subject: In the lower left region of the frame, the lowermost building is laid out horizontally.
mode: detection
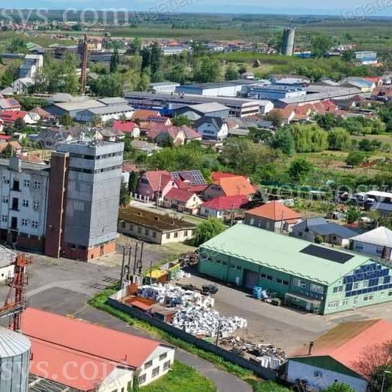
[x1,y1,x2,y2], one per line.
[0,307,180,392]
